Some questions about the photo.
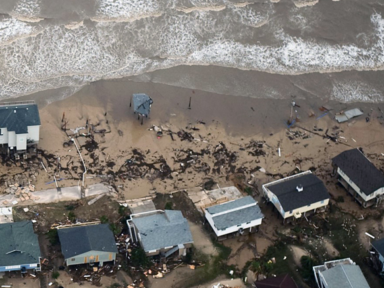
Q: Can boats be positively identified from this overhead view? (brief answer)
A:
No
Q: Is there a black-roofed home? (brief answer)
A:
Yes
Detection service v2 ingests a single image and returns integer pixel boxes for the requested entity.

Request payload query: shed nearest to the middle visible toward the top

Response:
[133,93,152,125]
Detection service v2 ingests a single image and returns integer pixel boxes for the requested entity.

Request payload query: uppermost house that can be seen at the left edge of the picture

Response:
[0,101,40,159]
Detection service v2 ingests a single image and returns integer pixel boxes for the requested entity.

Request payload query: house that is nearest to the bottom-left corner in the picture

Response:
[0,221,41,279]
